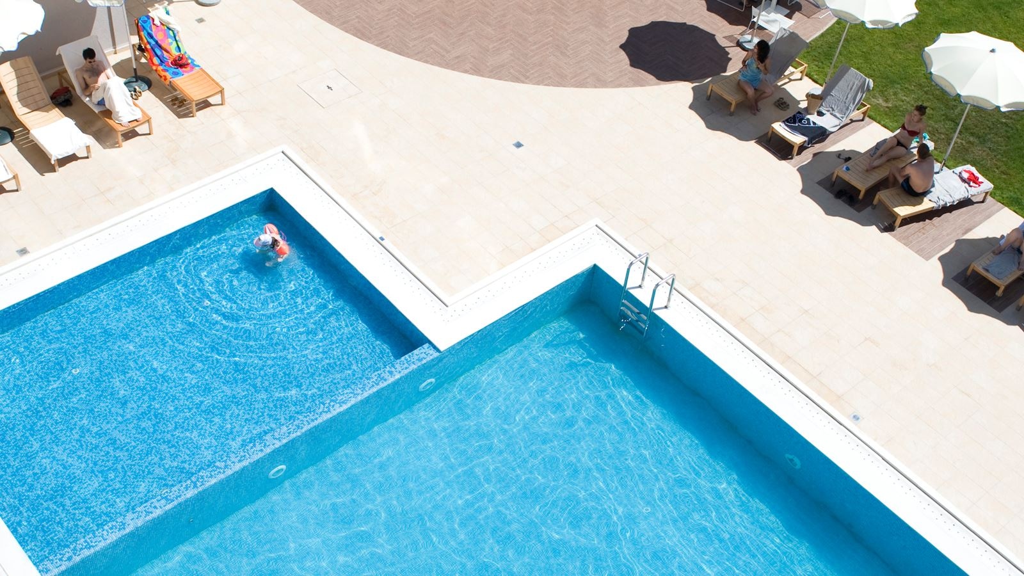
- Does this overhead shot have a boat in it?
No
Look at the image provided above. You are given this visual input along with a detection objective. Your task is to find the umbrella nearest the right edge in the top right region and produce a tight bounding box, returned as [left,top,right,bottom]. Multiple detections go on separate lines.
[914,31,1024,174]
